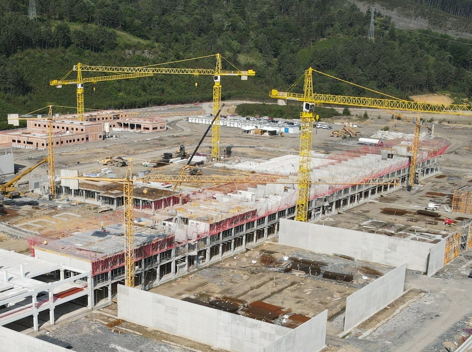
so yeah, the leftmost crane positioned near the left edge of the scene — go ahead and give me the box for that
[5,150,64,197]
